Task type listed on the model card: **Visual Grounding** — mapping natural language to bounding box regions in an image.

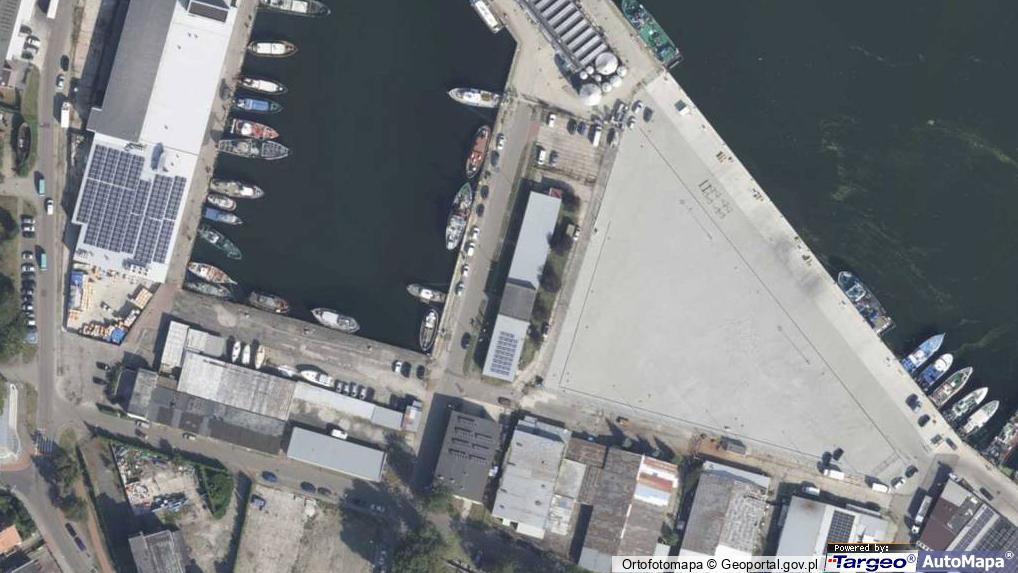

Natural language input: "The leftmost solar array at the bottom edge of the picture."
[828,511,855,545]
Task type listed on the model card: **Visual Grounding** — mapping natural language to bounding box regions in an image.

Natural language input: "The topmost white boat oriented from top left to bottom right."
[467,0,502,33]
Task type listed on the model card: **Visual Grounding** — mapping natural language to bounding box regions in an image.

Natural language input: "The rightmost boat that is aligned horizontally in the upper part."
[448,87,502,107]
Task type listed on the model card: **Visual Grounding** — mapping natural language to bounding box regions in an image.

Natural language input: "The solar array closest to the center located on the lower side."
[491,330,521,374]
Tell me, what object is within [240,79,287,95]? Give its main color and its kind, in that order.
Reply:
white boat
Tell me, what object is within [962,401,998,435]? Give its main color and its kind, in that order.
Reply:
white boat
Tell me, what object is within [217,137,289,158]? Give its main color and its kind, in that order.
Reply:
gray ship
